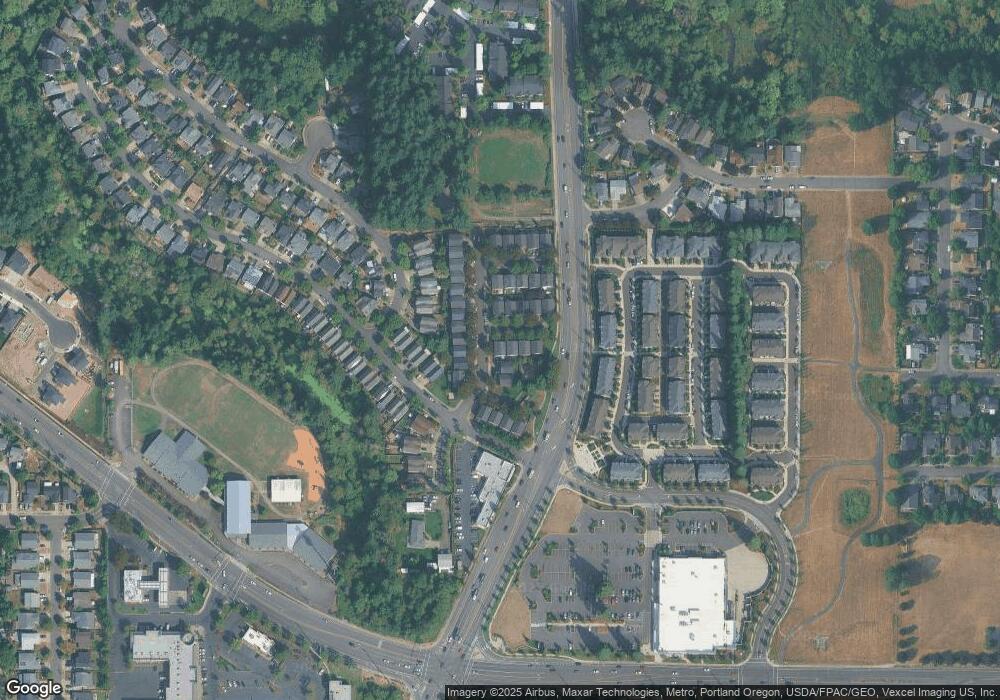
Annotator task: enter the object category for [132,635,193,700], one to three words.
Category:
building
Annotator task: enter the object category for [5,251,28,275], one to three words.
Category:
house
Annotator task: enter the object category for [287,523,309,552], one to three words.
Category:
building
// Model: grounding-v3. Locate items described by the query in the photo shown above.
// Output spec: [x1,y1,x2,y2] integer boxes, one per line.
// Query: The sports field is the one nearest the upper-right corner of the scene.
[474,128,550,190]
